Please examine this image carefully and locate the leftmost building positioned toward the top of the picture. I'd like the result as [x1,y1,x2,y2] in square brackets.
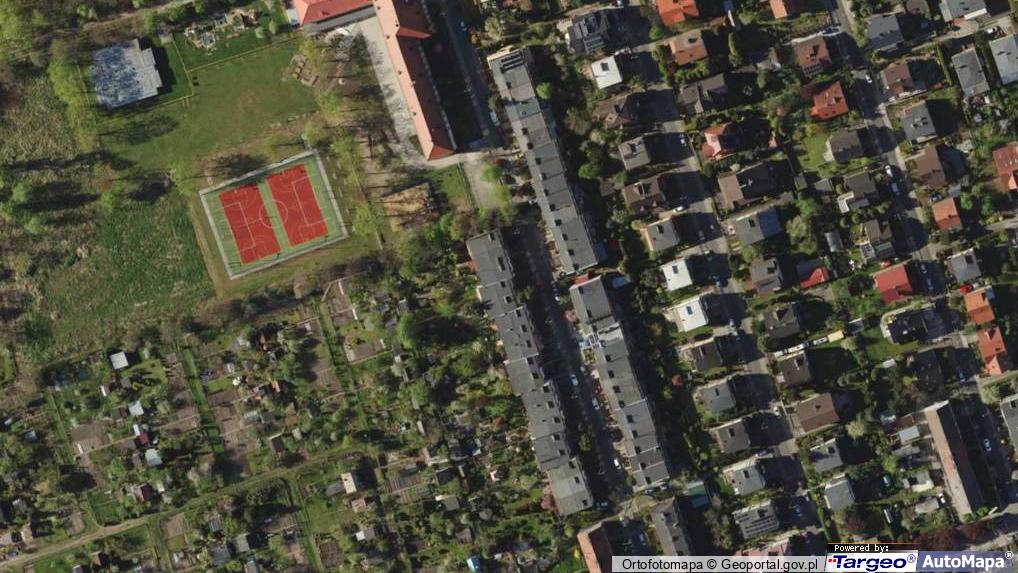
[92,39,162,109]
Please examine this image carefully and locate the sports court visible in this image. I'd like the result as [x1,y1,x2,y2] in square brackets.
[200,150,348,279]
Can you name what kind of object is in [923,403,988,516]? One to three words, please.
building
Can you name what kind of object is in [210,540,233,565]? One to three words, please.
shed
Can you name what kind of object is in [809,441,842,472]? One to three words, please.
house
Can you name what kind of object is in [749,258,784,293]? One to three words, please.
house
